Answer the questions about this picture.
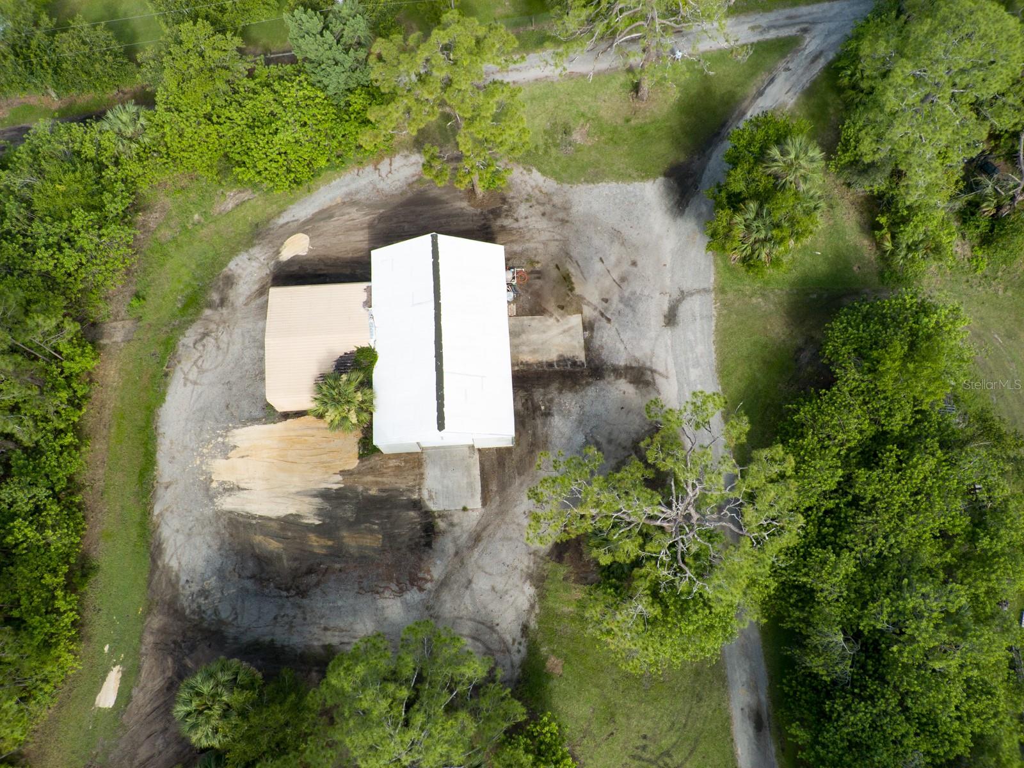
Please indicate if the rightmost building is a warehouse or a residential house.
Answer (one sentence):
It turns out the rightmost building is a warehouse.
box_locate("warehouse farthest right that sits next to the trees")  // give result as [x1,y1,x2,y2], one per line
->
[372,236,514,450]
